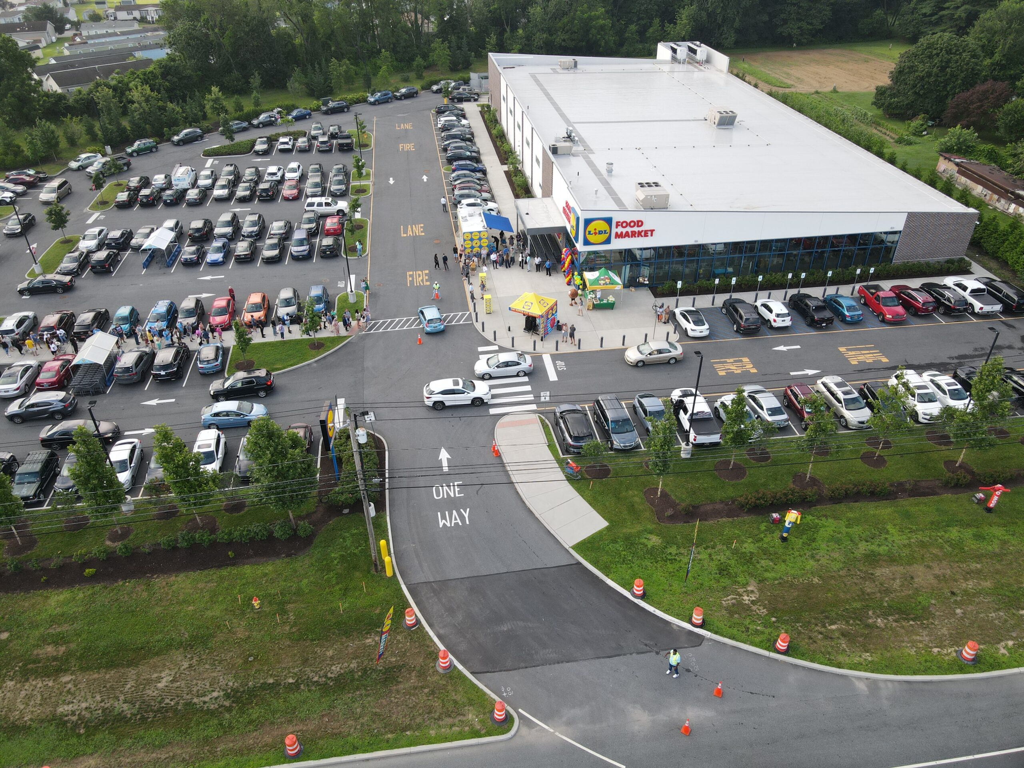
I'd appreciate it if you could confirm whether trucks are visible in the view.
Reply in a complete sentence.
Yes, there's a truck here.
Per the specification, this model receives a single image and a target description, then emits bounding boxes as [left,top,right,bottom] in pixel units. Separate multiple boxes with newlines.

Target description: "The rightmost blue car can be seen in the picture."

[823,297,866,325]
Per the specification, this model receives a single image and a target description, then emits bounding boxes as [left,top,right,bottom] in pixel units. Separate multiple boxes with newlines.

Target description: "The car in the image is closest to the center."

[473,351,533,380]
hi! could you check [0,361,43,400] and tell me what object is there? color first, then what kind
gray car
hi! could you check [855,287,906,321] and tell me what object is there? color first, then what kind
red truck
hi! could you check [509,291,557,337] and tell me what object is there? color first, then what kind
yellow tent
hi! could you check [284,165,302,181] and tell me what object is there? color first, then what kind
white car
